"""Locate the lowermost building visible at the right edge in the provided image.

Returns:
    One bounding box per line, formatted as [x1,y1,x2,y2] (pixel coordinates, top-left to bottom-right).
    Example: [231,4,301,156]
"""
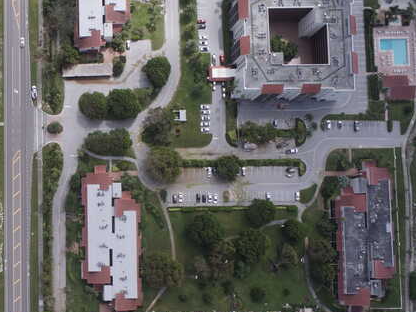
[329,160,396,312]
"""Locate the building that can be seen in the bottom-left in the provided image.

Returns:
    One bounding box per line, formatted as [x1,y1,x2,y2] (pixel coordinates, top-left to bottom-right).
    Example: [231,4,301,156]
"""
[80,165,143,312]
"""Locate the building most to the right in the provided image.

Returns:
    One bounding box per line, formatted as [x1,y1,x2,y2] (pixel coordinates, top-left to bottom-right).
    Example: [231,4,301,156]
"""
[380,76,416,100]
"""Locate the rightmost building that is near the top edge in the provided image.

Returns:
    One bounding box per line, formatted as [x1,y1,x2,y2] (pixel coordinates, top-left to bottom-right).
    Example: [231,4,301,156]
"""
[230,0,359,99]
